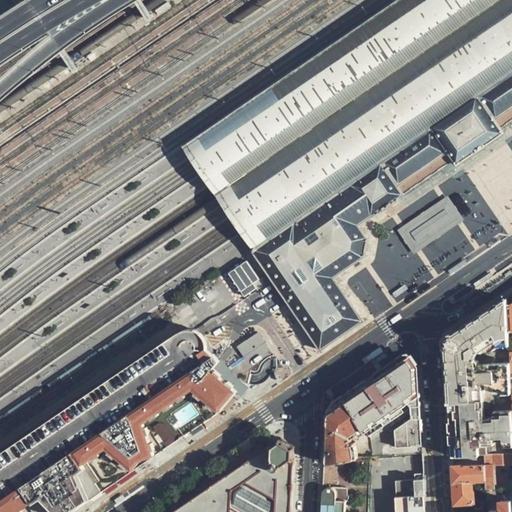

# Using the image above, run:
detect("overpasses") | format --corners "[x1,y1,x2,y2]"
[0,0,152,102]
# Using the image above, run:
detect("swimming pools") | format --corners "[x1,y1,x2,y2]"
[172,402,200,430]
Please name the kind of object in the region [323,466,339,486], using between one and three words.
house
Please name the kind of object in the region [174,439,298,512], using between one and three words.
building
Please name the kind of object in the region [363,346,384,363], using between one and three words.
vehicle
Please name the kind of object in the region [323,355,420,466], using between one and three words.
building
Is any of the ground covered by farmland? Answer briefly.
No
